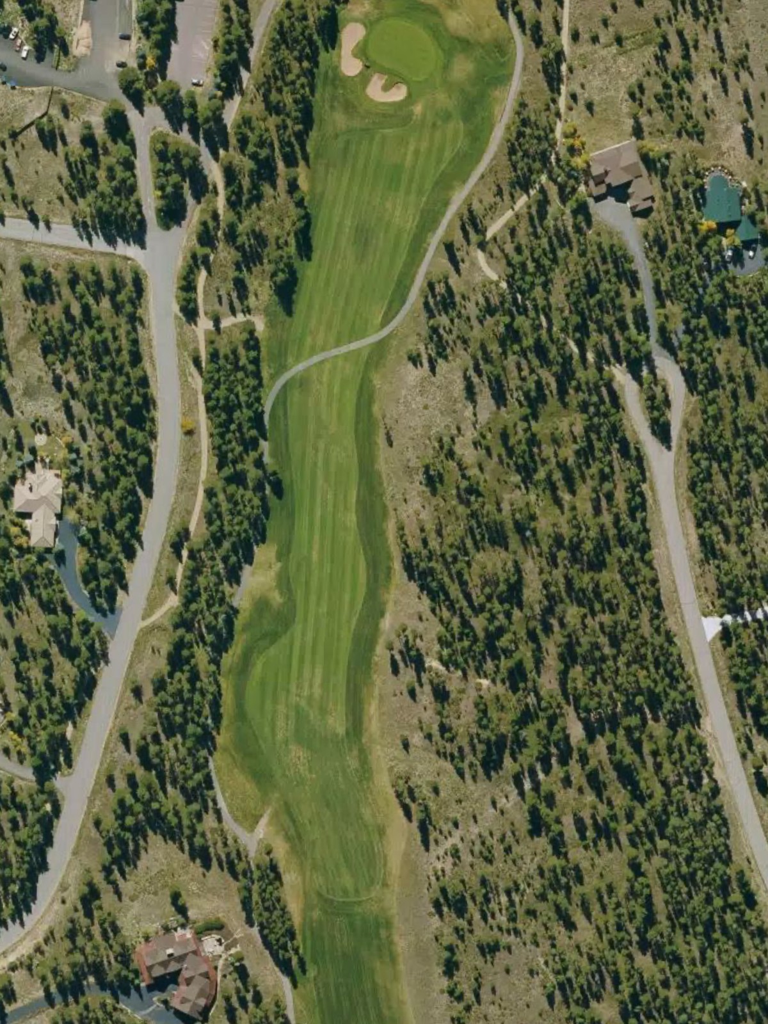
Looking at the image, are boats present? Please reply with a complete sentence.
No, no boat can be seen from above.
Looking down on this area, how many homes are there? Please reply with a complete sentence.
In total, there are 4 homes in the scene.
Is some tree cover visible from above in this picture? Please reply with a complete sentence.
Yes, some tree cover is visible.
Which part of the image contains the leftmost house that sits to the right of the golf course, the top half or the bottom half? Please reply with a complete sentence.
It is in the top half that the leftmost house that sits to the right of the golf course appears.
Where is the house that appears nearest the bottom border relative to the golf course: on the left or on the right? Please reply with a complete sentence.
It is on the left side of the golf course that the house that appears nearest the bottom border is positioned.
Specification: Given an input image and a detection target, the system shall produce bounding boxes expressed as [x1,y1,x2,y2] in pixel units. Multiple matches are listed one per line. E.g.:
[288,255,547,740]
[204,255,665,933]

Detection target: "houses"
[13,461,62,547]
[705,172,742,222]
[135,928,217,1019]
[586,136,656,212]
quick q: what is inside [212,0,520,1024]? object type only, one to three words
golf course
